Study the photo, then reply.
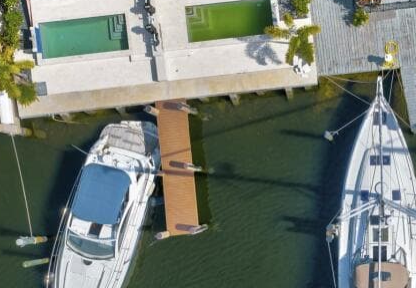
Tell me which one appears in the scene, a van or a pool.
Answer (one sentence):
Visible in the photo is a pool.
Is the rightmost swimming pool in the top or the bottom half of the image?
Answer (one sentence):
The top half of the photo is where the rightmost swimming pool is.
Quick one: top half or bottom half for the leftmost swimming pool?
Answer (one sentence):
You can find the leftmost swimming pool in the top half.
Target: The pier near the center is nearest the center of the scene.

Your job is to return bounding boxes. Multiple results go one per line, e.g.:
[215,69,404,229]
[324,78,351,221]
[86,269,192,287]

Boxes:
[155,100,200,237]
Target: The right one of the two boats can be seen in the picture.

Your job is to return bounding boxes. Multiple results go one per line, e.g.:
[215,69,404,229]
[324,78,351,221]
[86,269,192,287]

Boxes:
[336,74,416,288]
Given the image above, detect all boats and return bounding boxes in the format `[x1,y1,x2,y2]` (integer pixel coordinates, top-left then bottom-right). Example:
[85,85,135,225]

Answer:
[47,120,161,288]
[336,74,416,288]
